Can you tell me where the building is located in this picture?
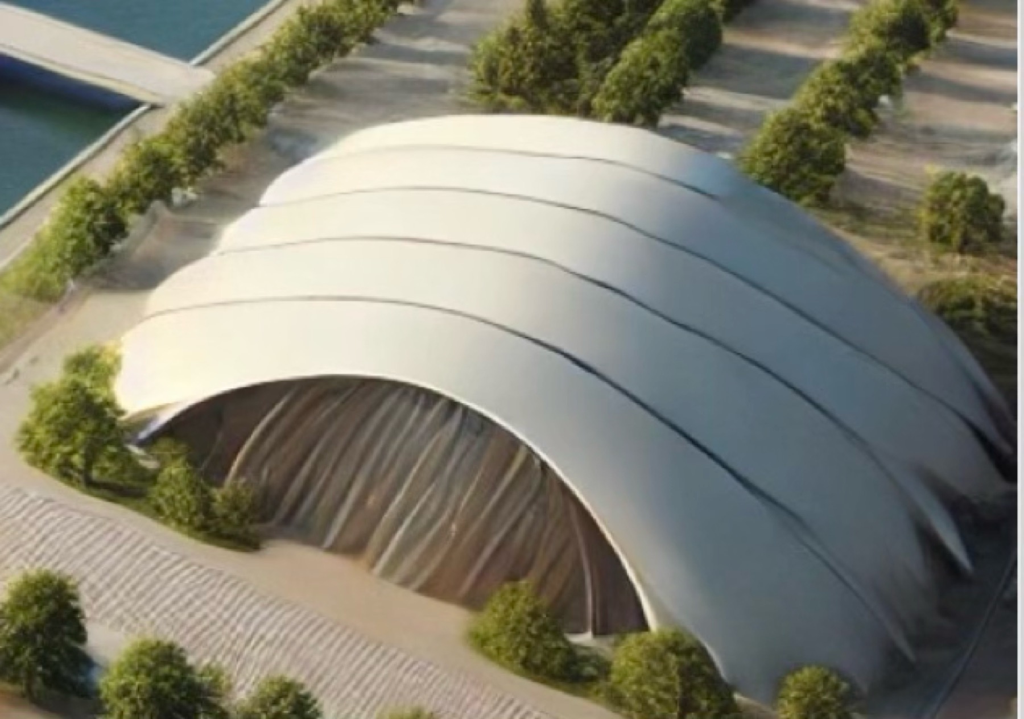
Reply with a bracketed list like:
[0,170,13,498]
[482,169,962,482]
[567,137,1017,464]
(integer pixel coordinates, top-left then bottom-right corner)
[112,114,1009,678]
